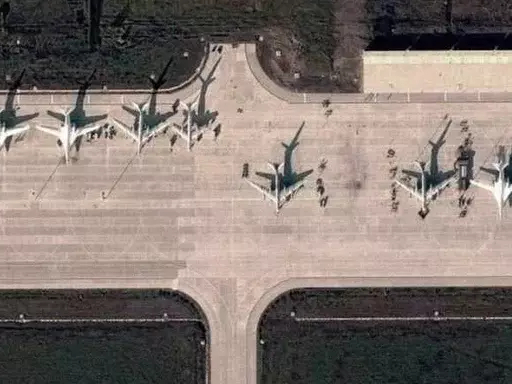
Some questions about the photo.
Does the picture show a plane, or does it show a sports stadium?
plane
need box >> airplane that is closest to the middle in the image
[249,154,307,206]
